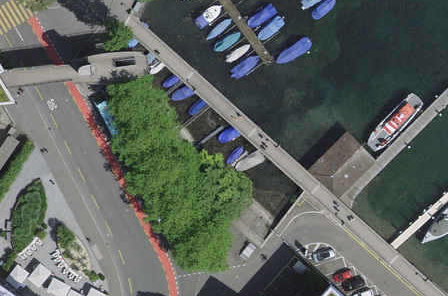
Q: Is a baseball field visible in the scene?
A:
No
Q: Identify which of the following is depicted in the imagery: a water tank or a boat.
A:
boat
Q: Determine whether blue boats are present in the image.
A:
Yes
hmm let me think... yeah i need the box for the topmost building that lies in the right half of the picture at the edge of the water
[308,130,376,198]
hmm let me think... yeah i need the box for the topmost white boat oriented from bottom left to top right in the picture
[194,5,220,28]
